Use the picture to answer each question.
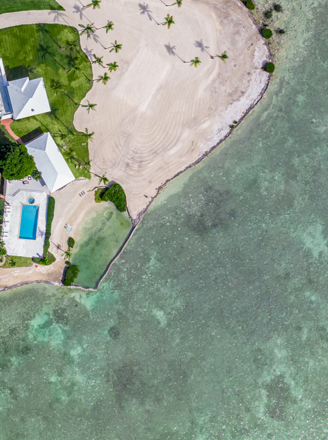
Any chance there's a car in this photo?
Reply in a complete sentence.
No, the picture doesn't show any car.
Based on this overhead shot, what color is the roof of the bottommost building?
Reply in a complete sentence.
The roof of the bottommost building is white.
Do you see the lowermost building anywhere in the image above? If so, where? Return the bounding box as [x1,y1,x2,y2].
[27,132,75,192]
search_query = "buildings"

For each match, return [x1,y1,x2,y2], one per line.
[6,77,50,120]
[27,132,75,192]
